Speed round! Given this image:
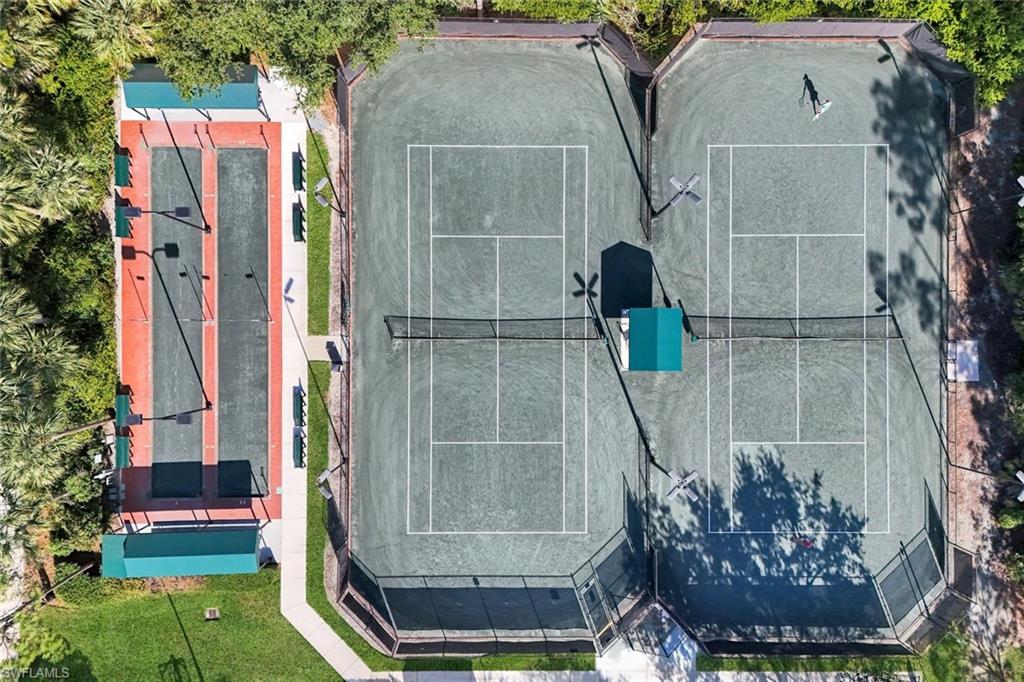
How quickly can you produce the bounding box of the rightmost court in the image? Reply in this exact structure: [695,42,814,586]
[649,39,948,636]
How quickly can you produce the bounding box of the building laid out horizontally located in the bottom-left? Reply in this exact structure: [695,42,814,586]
[101,518,272,578]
